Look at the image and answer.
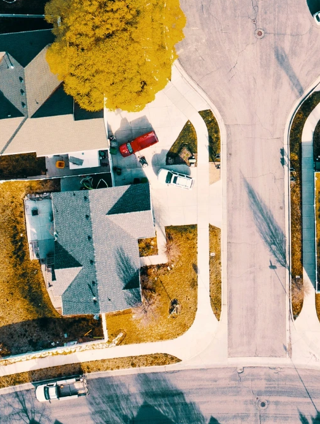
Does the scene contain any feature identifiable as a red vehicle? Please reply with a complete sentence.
Yes, there's a red vehicle here.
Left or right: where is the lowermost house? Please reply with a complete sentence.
The lowermost house is on the left side of the image.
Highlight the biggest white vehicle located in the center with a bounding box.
[155,168,196,191]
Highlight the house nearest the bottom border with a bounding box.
[47,182,156,315]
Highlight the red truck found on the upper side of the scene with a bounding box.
[119,129,160,158]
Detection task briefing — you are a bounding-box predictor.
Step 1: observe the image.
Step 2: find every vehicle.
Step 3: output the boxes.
[137,155,149,168]
[119,129,160,158]
[36,380,87,403]
[155,168,196,191]
[313,11,320,26]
